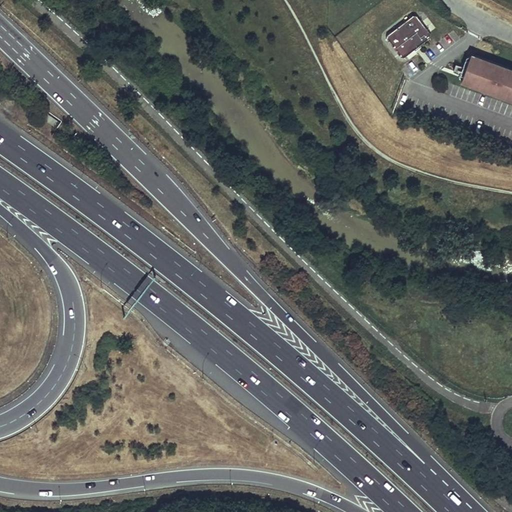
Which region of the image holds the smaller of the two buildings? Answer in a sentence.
The smaller of the two buildings sits in the top right section of the image.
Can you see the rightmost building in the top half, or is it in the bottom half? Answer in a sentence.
You can find the rightmost building in the top half.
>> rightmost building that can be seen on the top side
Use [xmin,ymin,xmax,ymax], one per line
[460,56,512,104]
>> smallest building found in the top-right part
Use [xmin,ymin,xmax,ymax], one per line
[386,16,431,59]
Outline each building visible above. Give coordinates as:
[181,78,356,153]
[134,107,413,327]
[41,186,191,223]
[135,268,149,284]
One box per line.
[460,56,512,104]
[386,16,431,59]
